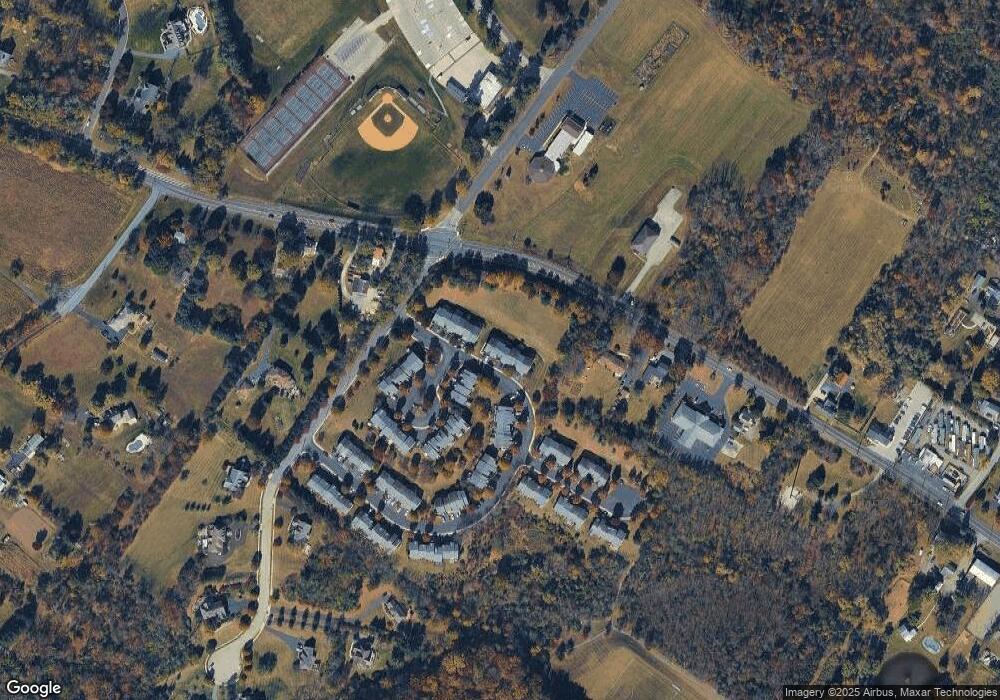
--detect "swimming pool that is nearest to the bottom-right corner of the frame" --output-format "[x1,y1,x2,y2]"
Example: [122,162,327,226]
[922,637,941,652]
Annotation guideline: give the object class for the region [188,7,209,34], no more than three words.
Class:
swimming pool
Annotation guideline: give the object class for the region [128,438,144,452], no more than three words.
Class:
swimming pool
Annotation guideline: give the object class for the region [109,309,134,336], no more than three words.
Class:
house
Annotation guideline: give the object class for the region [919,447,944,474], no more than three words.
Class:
building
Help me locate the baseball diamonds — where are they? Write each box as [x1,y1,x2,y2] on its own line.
[357,92,417,151]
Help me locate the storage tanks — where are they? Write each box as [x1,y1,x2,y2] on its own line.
[877,651,938,700]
